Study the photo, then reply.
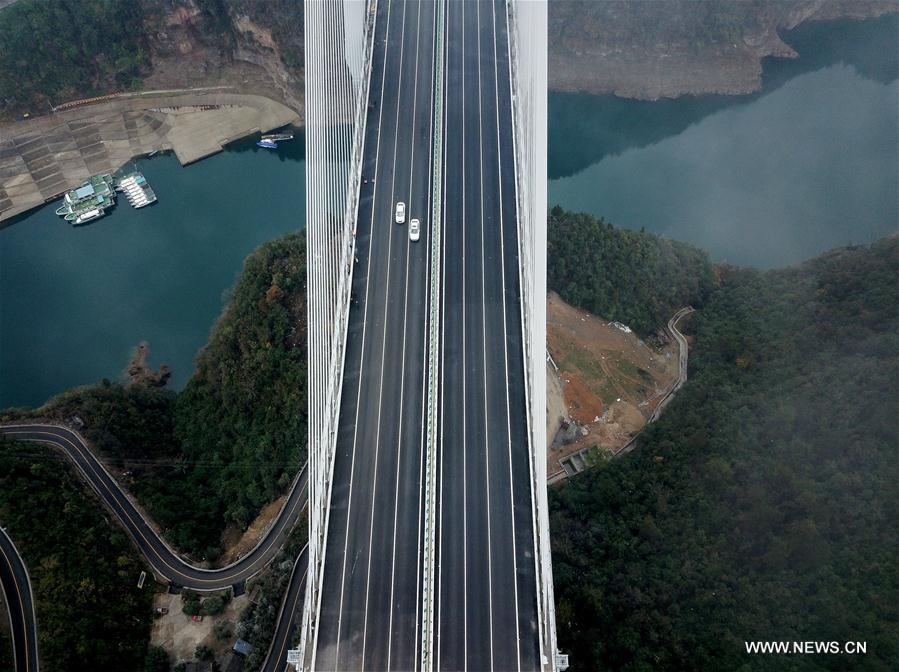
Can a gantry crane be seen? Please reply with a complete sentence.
No, no gantry crane can be seen from above.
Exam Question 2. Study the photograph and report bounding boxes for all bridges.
[284,0,573,672]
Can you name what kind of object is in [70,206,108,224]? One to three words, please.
boat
